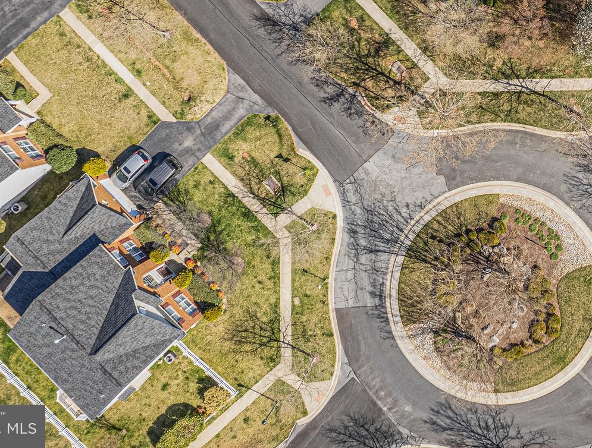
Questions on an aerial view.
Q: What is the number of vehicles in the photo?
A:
2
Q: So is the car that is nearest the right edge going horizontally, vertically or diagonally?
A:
diagonally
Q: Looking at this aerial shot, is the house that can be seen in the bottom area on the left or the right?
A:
left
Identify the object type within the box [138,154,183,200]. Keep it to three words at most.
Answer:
car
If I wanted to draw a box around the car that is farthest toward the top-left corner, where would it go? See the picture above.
[109,146,155,190]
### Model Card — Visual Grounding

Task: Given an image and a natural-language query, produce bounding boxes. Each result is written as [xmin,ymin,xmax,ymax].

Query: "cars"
[138,154,183,200]
[109,146,155,190]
